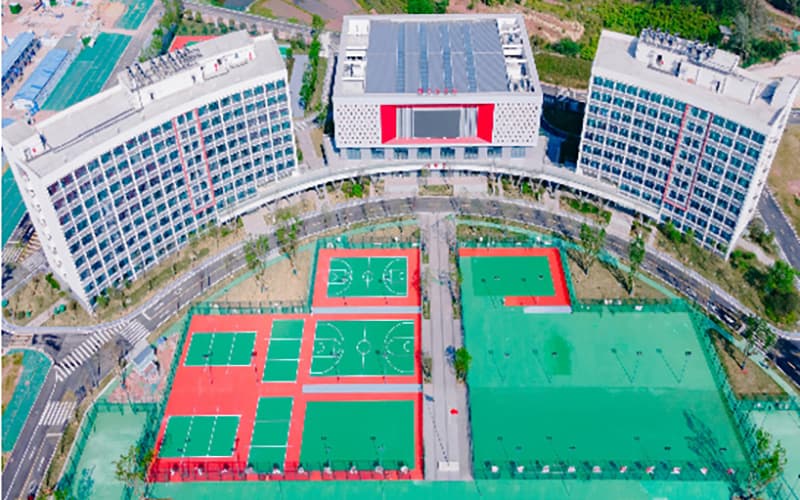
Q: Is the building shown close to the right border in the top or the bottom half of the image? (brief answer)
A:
top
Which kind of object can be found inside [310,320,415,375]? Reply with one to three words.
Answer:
basketball court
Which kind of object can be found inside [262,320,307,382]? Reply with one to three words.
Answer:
sports court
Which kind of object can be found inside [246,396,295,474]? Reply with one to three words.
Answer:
sports court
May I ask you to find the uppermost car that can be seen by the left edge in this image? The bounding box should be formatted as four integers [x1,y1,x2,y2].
[20,227,36,241]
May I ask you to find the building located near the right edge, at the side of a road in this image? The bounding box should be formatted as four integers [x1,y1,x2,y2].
[573,25,800,254]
